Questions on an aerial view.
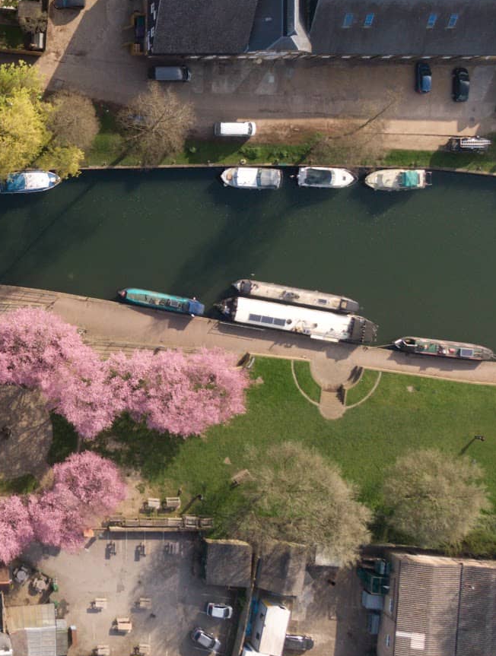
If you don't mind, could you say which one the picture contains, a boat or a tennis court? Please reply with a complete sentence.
This aerial view contains a boat.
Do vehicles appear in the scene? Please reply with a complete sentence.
Yes, you can see a vehicle in this photo.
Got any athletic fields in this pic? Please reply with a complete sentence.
No, no athletic field is visible in the scene.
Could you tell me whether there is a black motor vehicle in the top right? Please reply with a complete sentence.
Yes, there is a black motor vehicle in the top right.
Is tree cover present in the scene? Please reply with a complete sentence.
Yes, tree cover shows up in the scene.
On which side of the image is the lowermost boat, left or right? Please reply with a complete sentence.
The lowermost boat sits on the right side.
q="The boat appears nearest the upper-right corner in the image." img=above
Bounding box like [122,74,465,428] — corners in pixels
[362,169,432,191]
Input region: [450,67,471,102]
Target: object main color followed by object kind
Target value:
black car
